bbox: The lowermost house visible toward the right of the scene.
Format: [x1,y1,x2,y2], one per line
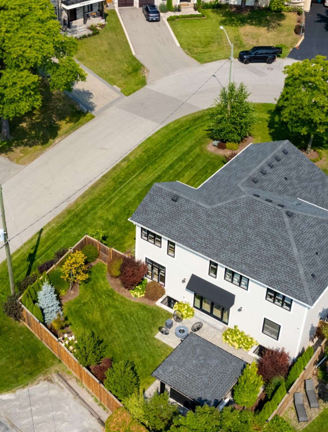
[127,140,328,357]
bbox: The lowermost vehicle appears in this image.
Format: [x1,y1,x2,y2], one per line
[239,44,280,65]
